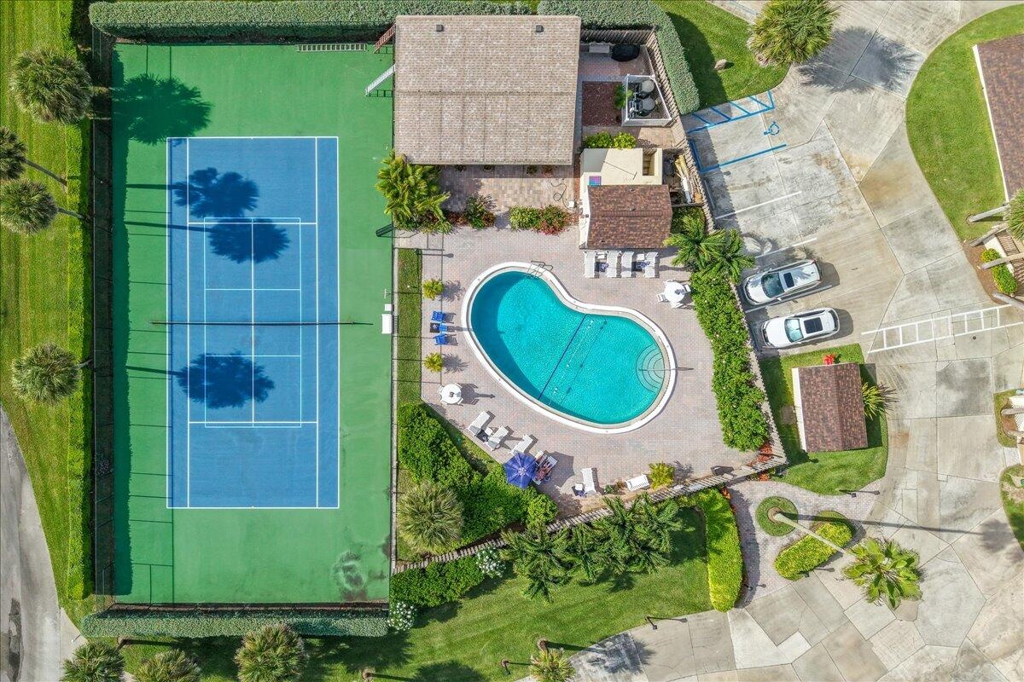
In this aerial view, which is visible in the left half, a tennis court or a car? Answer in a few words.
tennis court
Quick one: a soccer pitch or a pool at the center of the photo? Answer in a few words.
pool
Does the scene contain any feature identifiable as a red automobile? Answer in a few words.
No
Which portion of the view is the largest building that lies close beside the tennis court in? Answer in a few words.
top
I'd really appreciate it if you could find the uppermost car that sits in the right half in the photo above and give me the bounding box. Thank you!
[741,258,822,304]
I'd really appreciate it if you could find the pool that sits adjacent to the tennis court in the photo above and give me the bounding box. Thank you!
[461,261,677,433]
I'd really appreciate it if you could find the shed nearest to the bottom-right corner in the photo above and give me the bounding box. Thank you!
[785,361,868,454]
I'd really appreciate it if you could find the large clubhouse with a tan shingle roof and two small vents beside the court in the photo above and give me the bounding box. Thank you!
[394,12,580,166]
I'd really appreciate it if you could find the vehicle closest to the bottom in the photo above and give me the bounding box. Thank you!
[758,308,841,347]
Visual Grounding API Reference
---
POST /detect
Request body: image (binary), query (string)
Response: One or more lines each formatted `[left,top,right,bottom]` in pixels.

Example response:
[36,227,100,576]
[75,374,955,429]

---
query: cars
[741,258,822,304]
[758,308,841,347]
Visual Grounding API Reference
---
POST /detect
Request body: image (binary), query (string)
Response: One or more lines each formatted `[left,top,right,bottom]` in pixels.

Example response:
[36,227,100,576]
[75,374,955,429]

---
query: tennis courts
[113,43,392,603]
